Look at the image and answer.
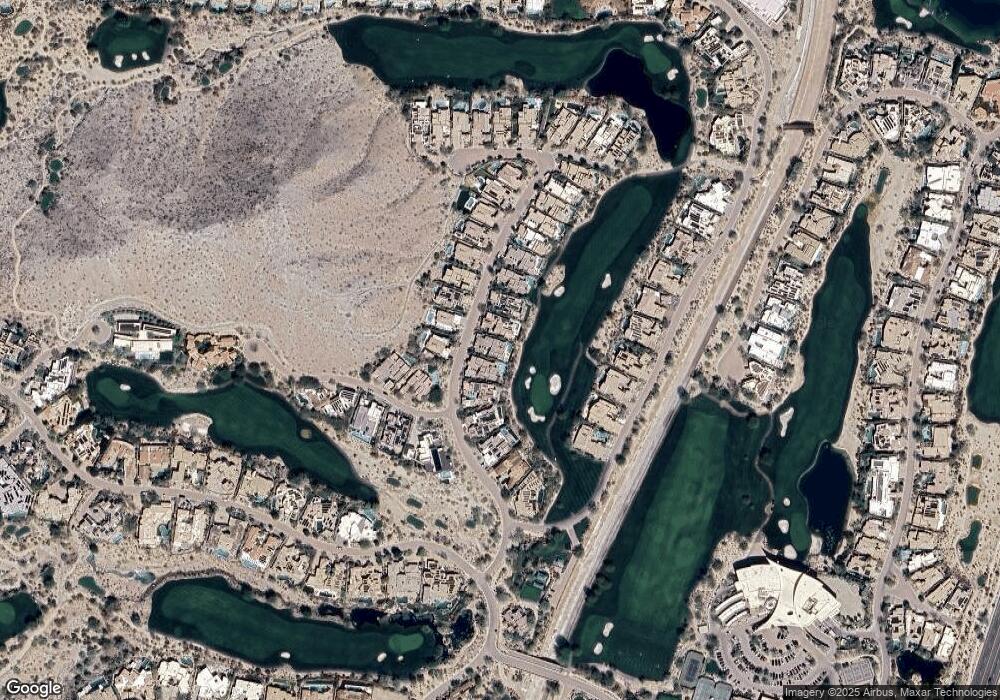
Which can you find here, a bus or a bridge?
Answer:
bridge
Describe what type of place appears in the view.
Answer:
residential area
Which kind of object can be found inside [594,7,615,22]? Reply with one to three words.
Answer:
swimming pool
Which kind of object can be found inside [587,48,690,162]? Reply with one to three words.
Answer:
pond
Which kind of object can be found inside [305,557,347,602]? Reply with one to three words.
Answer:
house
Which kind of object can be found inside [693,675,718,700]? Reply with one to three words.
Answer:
tennis court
